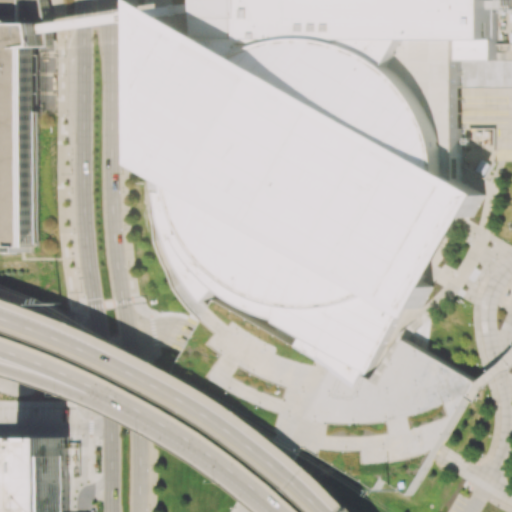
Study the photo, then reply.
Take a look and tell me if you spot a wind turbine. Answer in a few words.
No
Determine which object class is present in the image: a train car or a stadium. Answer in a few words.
stadium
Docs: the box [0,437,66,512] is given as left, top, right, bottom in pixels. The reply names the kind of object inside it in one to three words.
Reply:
building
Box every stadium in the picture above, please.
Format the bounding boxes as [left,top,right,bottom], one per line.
[117,2,483,386]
